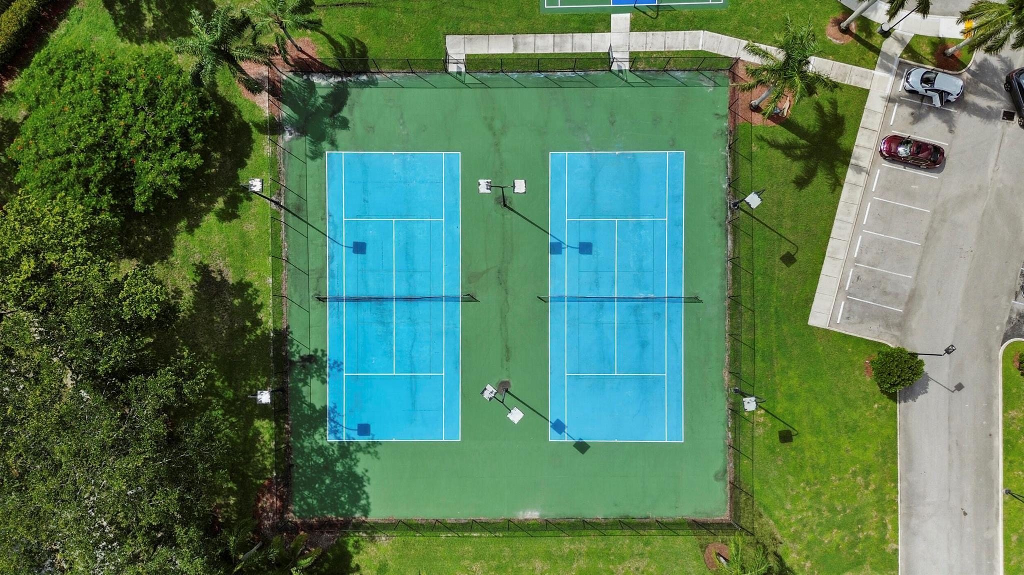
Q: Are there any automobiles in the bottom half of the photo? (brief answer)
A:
No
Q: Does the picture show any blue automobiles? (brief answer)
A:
No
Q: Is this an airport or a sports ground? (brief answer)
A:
sports ground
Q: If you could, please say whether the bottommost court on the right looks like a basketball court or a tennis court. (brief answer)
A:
tennis court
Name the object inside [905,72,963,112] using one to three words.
car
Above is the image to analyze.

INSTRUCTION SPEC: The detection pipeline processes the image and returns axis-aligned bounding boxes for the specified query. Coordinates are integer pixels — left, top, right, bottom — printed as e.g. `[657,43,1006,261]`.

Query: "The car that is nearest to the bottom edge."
[881,134,944,168]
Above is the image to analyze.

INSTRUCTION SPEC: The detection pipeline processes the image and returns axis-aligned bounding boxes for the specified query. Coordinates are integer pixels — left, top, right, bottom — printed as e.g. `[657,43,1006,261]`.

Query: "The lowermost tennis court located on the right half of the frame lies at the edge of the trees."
[505,70,729,518]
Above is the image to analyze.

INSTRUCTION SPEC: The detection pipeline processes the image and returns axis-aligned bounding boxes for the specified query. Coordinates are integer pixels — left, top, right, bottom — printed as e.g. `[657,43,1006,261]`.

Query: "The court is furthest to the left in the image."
[282,71,505,519]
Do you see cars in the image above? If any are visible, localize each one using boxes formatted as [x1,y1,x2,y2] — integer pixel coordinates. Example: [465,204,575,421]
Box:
[881,134,944,168]
[905,72,963,112]
[1008,70,1024,123]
